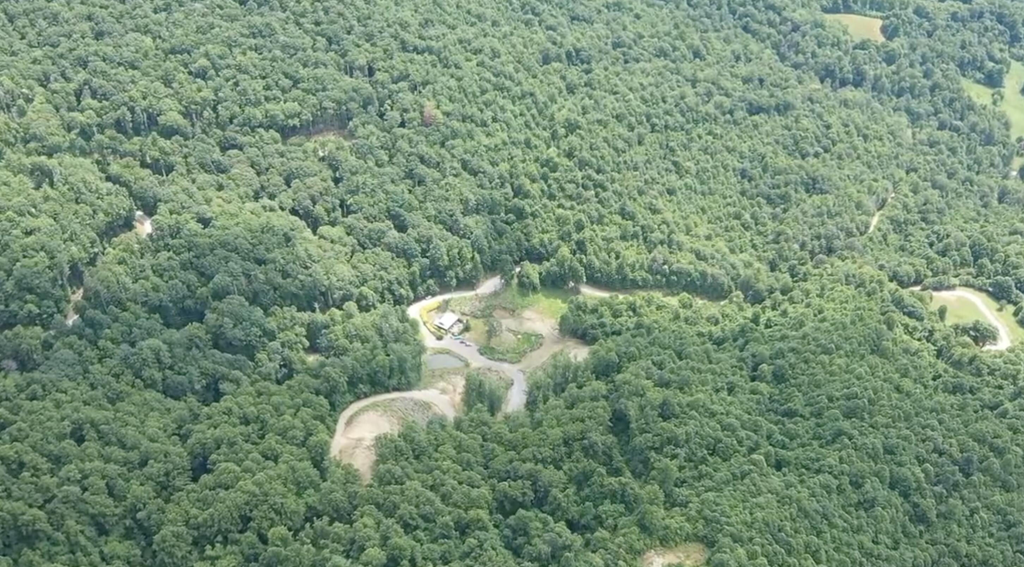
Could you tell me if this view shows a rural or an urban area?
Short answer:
rural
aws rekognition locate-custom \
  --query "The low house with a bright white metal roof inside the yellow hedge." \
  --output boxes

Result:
[434,313,463,334]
